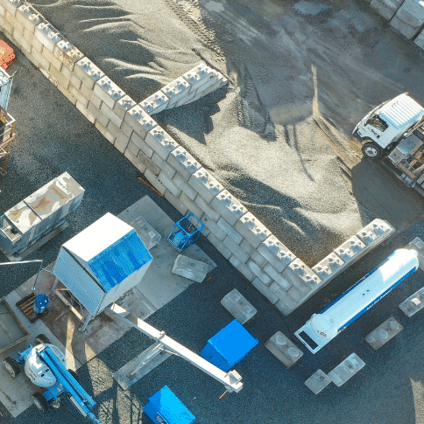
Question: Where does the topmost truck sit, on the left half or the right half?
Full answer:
The topmost truck is on the right side of the image.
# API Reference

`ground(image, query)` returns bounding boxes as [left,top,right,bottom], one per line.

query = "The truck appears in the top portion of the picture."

[350,82,424,166]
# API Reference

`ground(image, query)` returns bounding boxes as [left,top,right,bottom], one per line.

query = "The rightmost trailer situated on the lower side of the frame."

[292,246,423,358]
